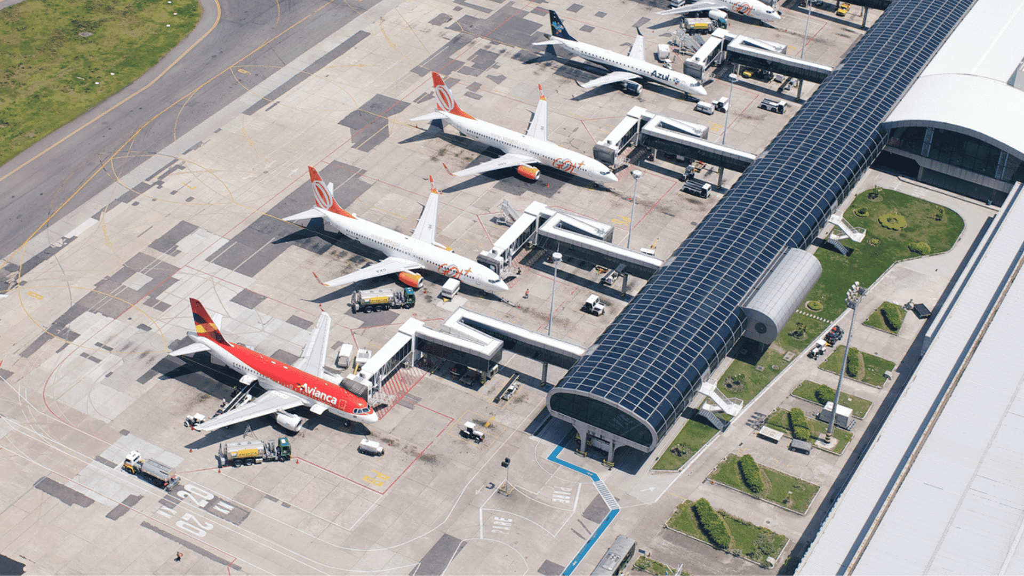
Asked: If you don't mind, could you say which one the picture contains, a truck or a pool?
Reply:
truck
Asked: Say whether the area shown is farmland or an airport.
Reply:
airport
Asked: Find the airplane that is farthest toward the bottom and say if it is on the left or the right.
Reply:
left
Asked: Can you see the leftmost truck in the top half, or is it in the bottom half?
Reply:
bottom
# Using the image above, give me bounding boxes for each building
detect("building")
[793,178,1024,576]
[545,0,982,469]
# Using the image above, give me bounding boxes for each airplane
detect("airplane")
[647,0,780,24]
[167,297,380,434]
[281,166,506,296]
[530,10,709,102]
[410,72,614,188]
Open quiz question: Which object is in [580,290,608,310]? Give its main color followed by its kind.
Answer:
white work vehicle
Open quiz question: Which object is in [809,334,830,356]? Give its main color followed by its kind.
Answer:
white work vehicle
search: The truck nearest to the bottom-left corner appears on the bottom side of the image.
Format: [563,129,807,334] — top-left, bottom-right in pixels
[120,446,184,487]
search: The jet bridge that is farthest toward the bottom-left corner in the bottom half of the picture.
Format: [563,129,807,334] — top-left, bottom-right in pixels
[346,307,587,422]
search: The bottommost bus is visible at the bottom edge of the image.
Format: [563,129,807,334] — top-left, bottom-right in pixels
[588,530,639,576]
